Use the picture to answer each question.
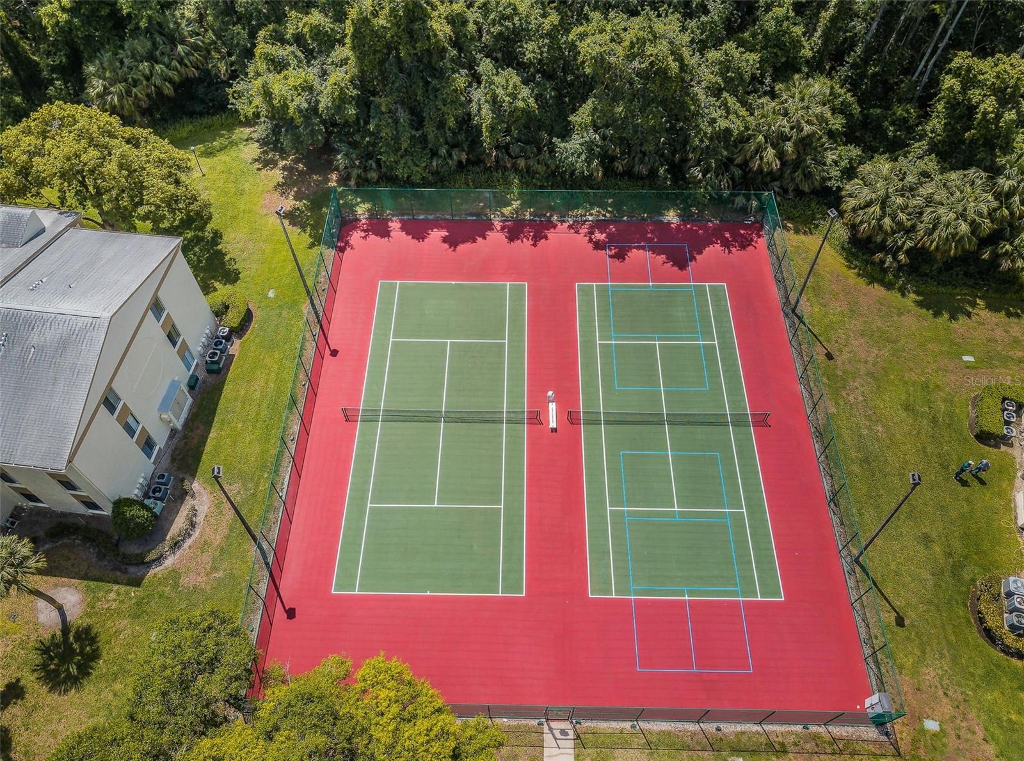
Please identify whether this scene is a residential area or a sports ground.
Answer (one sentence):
This looks like a sports ground.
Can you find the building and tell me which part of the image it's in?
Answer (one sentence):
You can find the building in the left area of the picture.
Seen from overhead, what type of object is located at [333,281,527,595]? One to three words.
tennis court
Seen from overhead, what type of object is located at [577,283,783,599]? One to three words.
tennis court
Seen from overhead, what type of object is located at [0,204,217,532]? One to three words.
building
